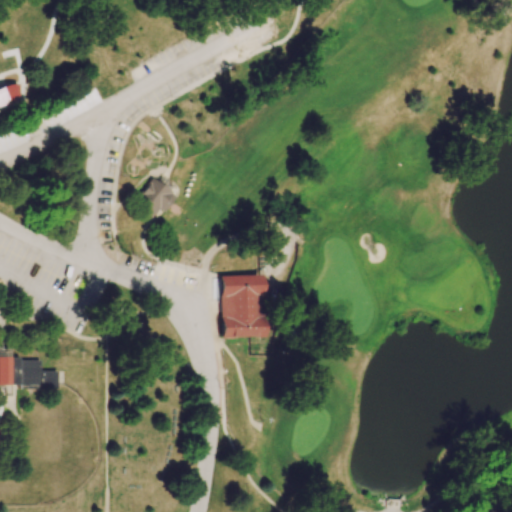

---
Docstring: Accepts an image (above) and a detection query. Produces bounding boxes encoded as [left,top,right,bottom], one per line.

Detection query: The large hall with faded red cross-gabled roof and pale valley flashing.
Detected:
[222,274,271,338]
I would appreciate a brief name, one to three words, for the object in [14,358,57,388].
shed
